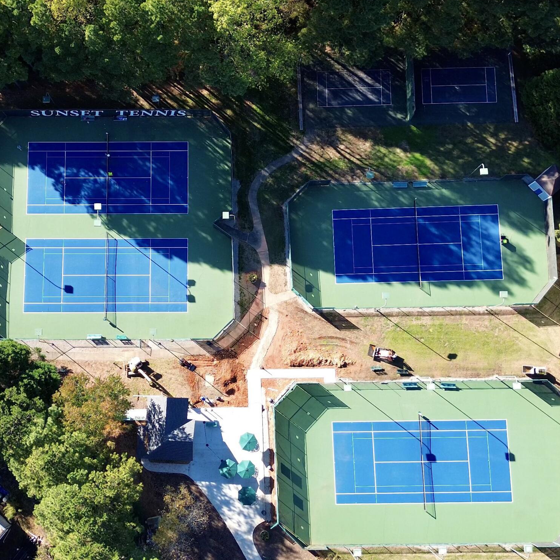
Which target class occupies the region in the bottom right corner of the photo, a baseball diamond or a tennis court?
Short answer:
tennis court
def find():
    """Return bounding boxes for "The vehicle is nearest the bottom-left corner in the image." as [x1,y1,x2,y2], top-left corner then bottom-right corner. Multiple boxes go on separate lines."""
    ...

[120,363,154,396]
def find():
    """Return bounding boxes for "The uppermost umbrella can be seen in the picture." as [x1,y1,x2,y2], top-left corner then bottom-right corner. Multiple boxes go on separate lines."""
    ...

[240,432,258,451]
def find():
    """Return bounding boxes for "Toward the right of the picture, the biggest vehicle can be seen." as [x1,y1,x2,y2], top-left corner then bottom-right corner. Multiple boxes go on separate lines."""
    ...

[368,345,398,365]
